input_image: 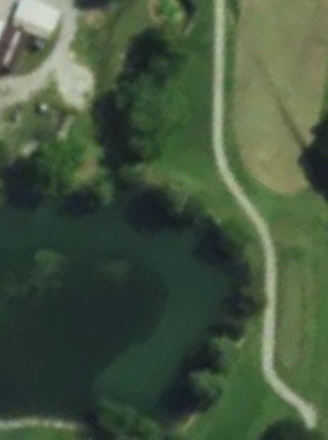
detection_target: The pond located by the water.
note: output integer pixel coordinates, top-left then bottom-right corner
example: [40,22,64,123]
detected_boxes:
[0,192,238,420]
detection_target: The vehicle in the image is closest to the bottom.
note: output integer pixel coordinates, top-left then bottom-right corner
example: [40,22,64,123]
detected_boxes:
[36,100,49,117]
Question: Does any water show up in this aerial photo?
Yes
